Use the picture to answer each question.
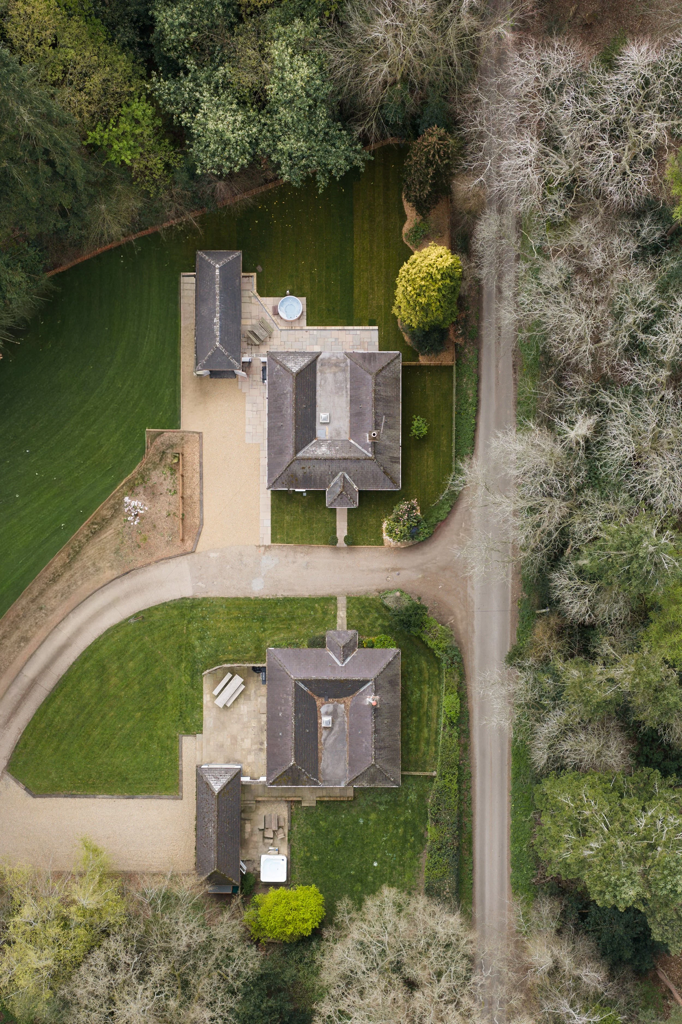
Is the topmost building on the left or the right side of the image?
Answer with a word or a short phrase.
left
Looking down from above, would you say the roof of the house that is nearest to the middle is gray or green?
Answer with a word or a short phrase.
gray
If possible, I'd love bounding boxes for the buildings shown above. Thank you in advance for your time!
[196,759,250,886]
[266,350,402,509]
[195,250,251,381]
[265,629,402,788]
